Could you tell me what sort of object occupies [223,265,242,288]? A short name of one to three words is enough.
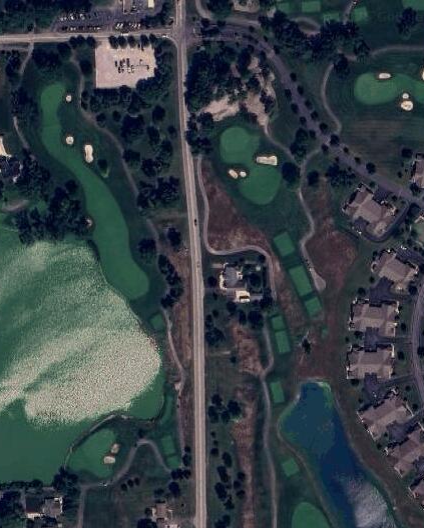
house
